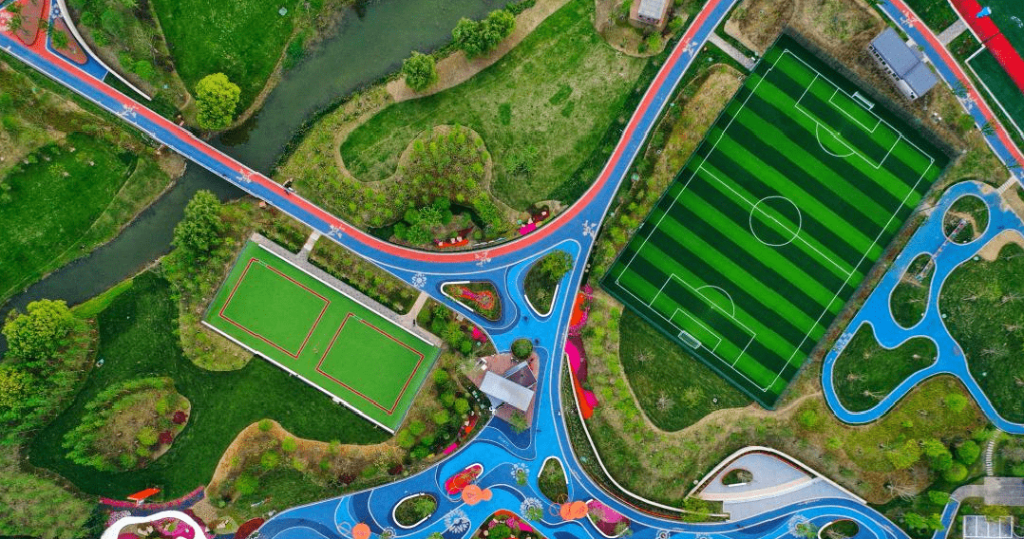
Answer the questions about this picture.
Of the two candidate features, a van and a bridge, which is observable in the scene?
bridge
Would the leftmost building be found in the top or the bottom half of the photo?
bottom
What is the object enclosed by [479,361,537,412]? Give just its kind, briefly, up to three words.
building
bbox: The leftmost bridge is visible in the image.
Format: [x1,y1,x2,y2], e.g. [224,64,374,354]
[174,129,274,200]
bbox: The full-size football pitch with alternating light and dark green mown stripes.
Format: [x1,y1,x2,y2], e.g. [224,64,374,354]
[603,36,952,406]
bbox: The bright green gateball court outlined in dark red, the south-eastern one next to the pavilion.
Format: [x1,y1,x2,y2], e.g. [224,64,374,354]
[296,294,440,433]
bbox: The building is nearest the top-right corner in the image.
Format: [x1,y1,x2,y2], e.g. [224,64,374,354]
[865,29,936,101]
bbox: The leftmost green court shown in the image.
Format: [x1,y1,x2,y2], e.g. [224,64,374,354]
[203,238,342,375]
